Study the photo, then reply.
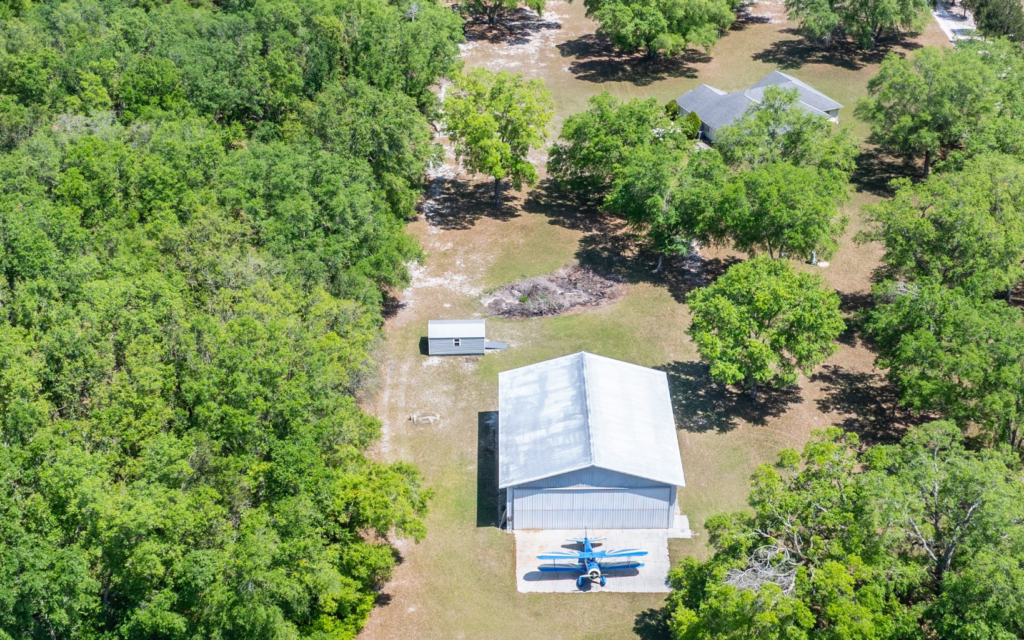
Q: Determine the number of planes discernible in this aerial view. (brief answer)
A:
one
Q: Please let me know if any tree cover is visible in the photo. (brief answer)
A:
Yes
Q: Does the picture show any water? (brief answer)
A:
No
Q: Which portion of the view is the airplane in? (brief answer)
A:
bottom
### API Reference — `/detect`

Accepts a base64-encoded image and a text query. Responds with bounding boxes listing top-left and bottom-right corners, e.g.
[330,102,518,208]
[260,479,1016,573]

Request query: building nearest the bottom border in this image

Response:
[498,351,685,530]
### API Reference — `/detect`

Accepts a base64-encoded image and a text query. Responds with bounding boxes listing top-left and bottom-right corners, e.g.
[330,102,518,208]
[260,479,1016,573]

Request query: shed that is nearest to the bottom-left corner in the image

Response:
[428,321,507,354]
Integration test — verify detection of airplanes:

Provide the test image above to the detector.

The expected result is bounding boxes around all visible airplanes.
[536,524,648,585]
